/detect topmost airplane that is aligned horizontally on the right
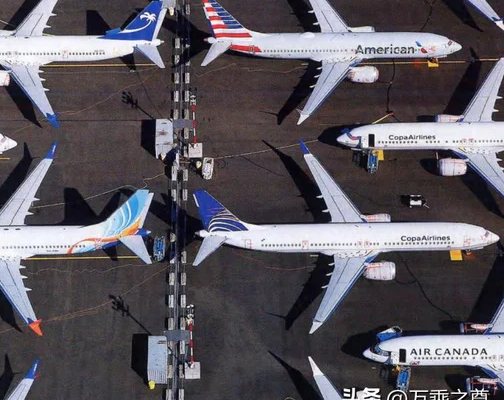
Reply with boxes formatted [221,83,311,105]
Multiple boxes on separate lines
[198,0,462,125]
